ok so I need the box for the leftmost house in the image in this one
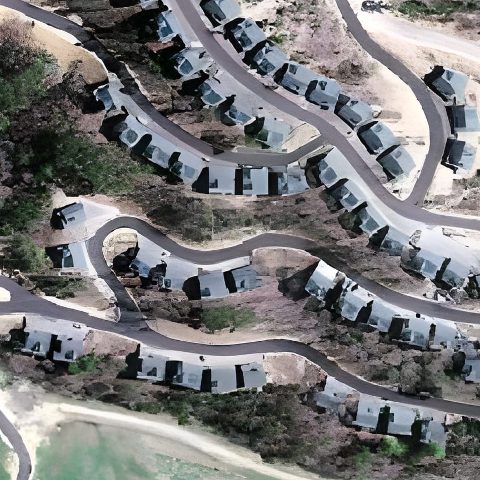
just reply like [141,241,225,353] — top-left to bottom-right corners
[24,327,56,359]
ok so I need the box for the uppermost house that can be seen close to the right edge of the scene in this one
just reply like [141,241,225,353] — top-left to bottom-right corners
[426,65,472,105]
